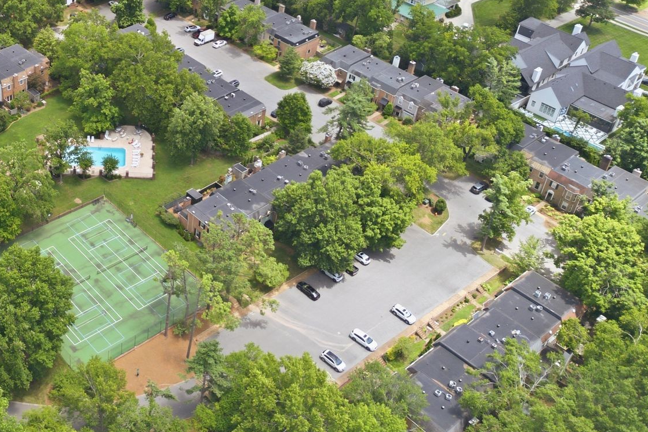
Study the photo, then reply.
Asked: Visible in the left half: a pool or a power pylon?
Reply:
pool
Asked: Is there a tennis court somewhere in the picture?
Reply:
Yes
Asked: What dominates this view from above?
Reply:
trees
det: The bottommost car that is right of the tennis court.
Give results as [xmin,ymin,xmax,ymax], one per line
[319,349,347,373]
